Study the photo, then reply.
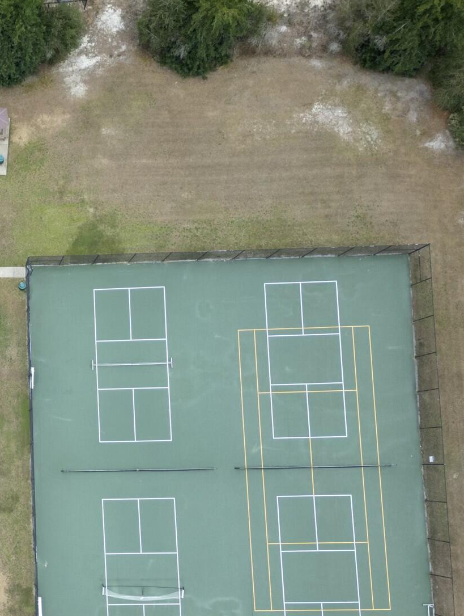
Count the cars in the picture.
zero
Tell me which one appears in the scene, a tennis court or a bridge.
tennis court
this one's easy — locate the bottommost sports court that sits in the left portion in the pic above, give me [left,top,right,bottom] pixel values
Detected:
[102,497,182,616]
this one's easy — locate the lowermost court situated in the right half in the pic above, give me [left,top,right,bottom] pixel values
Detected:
[277,495,361,616]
